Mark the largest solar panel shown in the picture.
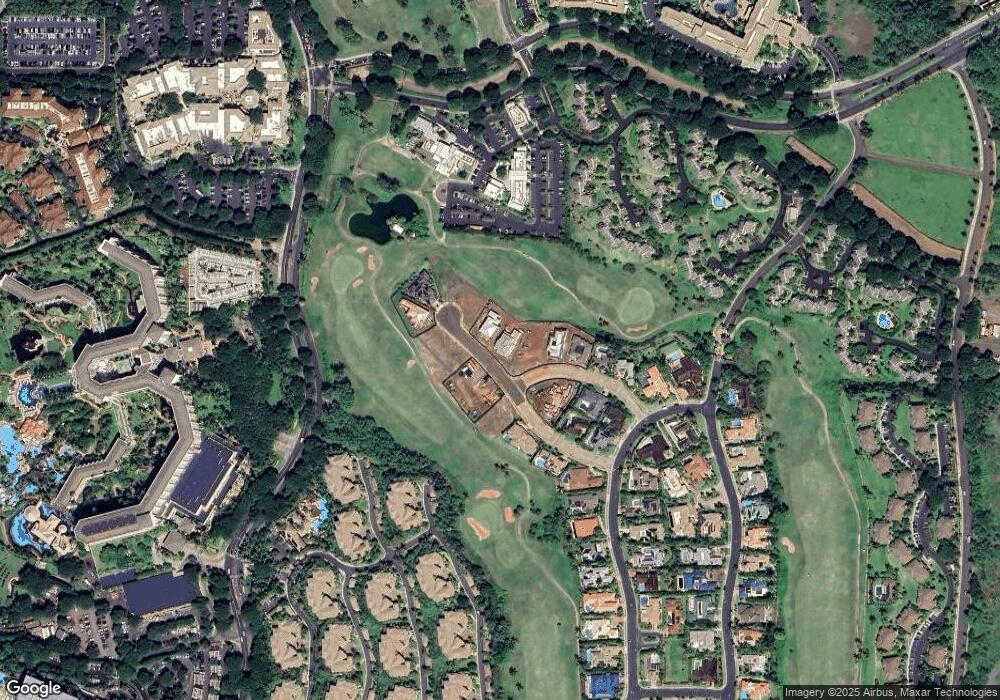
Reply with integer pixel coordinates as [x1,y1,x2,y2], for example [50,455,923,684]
[171,441,233,512]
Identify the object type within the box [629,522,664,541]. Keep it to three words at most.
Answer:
house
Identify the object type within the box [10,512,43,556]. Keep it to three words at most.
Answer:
swimming pool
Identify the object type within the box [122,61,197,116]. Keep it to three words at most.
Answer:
building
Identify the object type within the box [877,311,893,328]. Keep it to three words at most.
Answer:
swimming pool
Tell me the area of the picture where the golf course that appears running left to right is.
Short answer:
top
